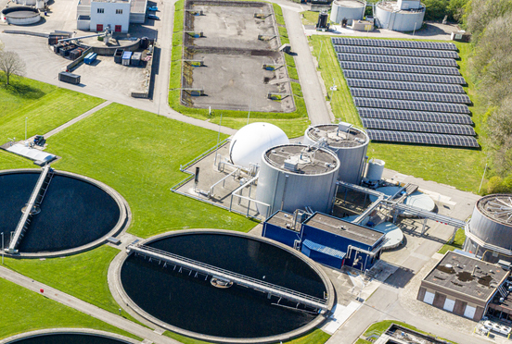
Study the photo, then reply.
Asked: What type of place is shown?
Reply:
industrial area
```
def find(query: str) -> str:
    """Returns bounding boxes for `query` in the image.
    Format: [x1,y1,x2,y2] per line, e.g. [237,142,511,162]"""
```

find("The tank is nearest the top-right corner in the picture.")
[371,0,427,32]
